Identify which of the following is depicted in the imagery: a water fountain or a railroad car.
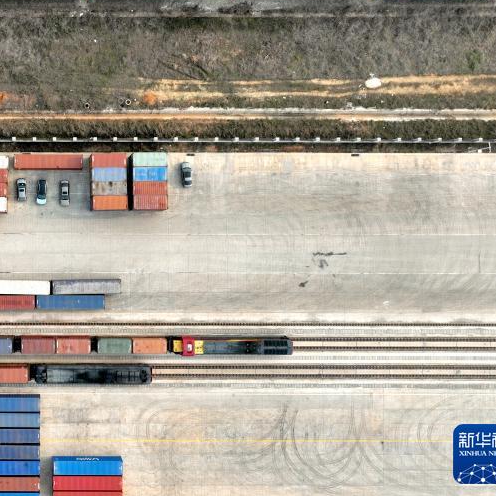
railroad car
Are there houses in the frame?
No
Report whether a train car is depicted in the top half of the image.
No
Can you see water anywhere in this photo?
No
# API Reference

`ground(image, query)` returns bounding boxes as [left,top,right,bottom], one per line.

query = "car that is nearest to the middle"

[180,162,193,187]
